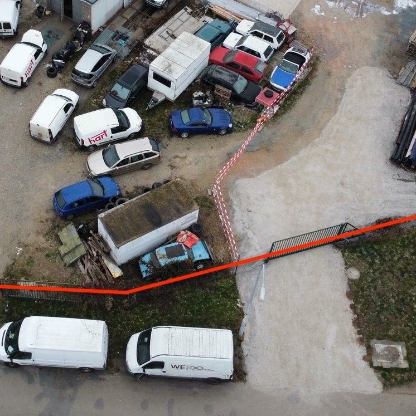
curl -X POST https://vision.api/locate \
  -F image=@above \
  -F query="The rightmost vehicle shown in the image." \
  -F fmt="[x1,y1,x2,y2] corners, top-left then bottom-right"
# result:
[271,46,311,94]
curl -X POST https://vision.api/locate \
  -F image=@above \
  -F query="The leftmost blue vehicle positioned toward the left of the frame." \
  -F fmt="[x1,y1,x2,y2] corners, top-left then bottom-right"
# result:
[53,175,121,219]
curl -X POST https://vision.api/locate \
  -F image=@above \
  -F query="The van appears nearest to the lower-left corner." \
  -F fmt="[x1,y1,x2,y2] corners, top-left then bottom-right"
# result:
[0,311,111,375]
